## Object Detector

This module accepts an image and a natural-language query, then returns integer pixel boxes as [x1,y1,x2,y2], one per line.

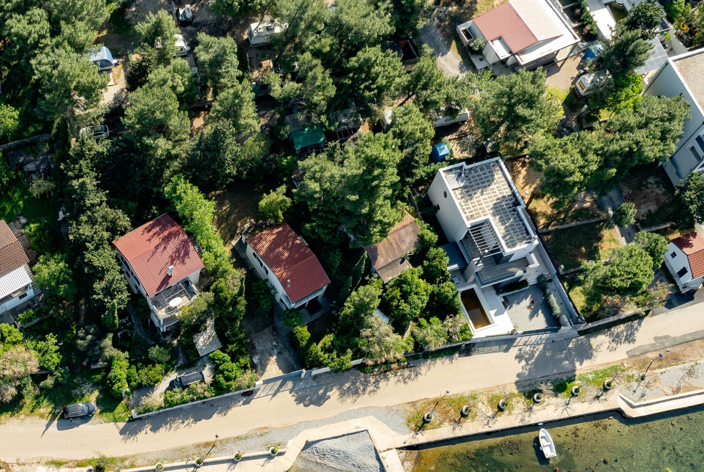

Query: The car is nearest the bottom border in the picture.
[63,402,97,421]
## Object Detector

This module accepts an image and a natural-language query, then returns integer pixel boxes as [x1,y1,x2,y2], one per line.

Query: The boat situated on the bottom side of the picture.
[538,428,557,460]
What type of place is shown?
residential area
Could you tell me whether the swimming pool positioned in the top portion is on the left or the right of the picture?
right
